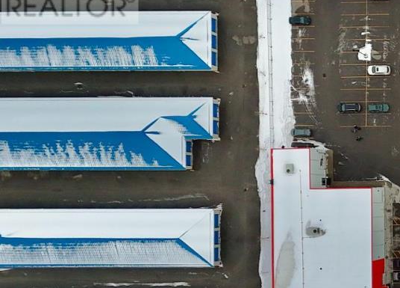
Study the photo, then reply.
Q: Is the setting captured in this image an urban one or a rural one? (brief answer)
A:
urban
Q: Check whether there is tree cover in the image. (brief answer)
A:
No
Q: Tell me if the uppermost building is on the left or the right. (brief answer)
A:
left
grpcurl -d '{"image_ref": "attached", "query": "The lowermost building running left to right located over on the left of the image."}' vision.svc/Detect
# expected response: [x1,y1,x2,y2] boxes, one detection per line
[0,208,219,268]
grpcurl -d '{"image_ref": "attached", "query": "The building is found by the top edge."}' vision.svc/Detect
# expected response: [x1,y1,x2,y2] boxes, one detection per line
[0,10,217,70]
